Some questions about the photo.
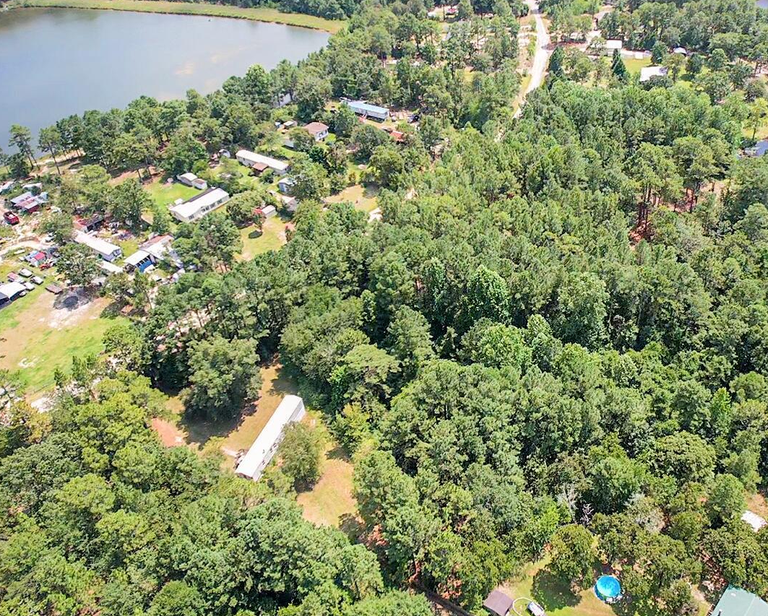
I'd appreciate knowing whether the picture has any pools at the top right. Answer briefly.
No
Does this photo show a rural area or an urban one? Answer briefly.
rural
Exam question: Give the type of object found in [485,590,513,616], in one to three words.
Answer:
shed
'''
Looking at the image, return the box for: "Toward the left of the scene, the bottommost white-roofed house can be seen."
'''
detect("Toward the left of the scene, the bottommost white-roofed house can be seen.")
[232,395,303,483]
